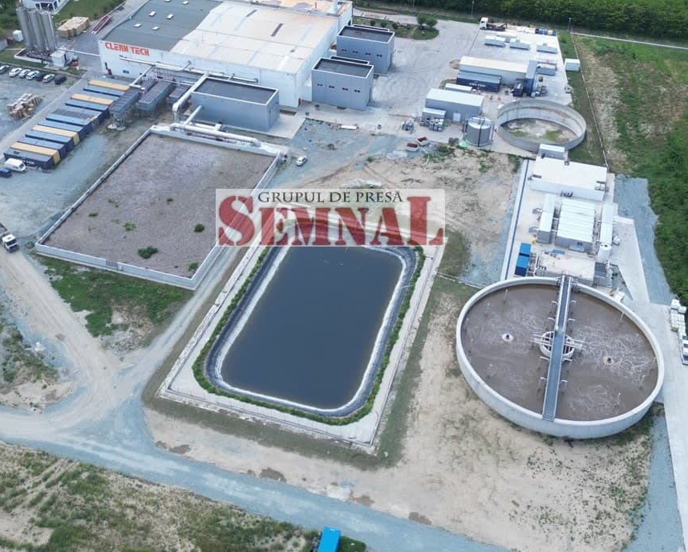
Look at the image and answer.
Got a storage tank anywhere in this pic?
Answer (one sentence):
Yes, a storage tank is visible in the scene.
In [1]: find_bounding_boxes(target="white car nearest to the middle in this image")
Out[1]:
[293,155,309,167]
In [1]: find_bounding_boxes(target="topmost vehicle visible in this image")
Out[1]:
[480,16,505,32]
